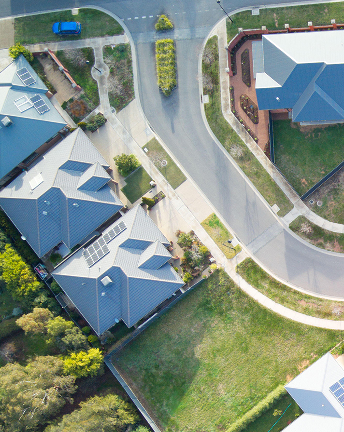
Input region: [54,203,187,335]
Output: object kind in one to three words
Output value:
house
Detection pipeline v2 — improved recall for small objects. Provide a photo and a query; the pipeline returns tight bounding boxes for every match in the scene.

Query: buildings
[253,29,344,123]
[0,126,128,259]
[54,203,187,335]
[0,54,73,179]
[281,352,344,432]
